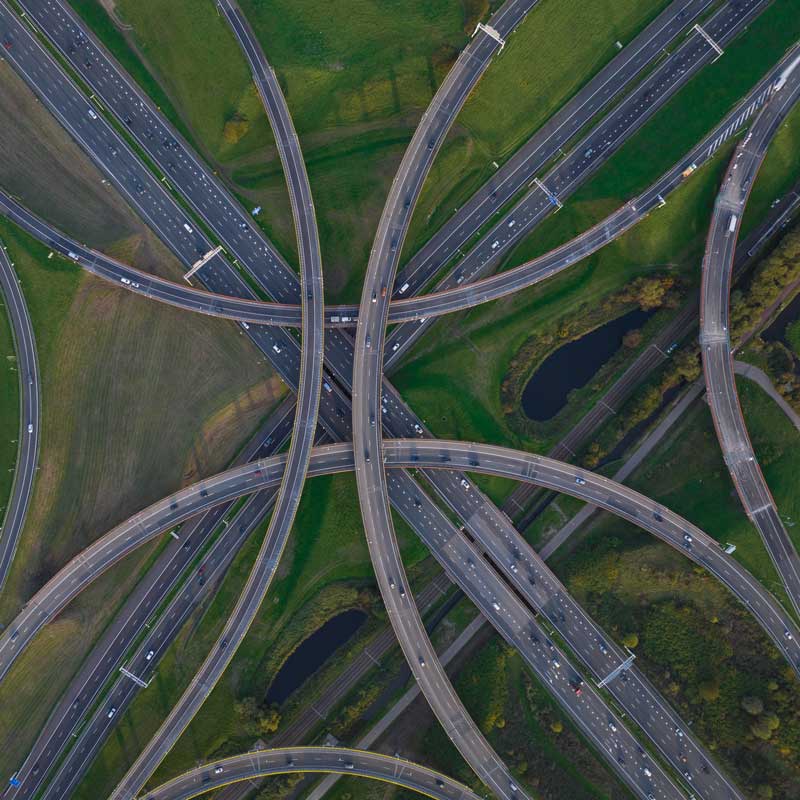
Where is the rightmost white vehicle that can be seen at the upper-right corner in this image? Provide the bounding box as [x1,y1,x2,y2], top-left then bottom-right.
[775,60,800,91]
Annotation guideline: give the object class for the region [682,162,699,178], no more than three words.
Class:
vehicle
